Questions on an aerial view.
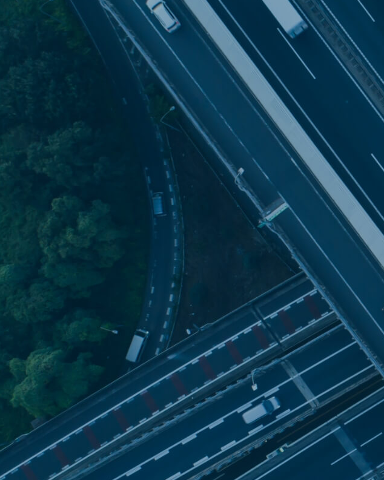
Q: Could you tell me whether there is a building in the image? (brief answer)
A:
No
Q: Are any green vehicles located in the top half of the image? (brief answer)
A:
No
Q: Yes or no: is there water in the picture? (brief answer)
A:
No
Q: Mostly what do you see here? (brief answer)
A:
paved ground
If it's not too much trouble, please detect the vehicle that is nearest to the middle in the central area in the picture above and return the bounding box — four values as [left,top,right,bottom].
[150,189,168,217]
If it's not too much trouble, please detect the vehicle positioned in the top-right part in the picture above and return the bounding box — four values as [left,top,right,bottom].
[263,0,316,48]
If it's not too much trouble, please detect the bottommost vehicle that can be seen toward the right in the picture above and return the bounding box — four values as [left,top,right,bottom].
[242,395,281,425]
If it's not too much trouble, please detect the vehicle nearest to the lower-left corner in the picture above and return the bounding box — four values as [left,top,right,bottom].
[125,329,149,362]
